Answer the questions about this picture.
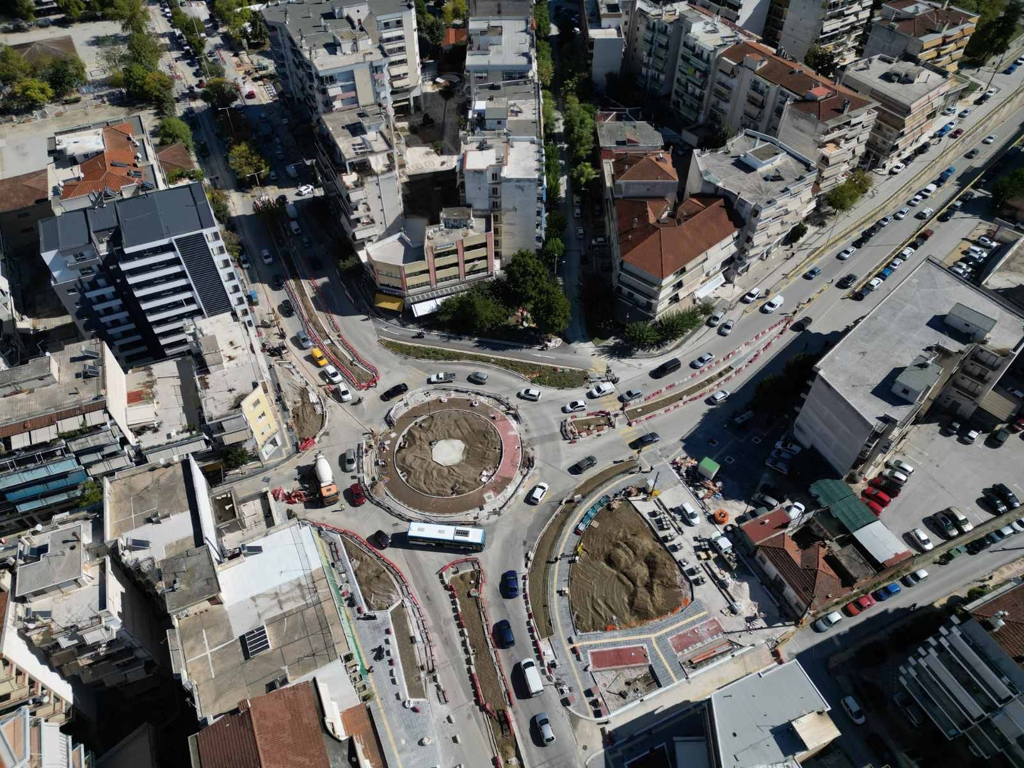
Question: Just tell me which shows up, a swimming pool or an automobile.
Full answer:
This aerial view contains an automobile.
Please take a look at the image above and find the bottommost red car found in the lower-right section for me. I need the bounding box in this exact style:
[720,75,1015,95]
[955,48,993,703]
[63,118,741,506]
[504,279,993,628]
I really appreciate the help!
[846,595,876,616]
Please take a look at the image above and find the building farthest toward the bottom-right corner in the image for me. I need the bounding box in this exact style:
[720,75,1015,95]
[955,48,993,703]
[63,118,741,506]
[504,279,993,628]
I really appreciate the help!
[893,581,1024,763]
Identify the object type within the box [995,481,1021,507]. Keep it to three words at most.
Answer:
car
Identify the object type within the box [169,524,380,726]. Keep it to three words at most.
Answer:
building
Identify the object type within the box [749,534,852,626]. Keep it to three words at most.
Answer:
house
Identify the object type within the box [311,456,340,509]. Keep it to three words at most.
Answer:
truck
